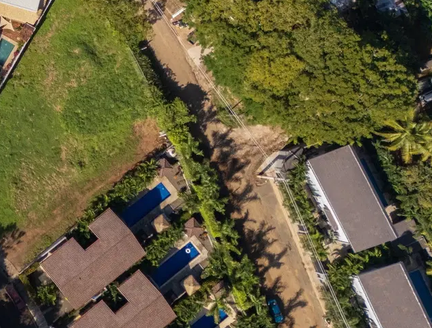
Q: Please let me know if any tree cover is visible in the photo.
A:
Yes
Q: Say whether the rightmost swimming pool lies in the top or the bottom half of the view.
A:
bottom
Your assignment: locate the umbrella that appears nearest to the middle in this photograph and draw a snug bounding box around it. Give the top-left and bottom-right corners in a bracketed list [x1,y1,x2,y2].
[152,213,169,231]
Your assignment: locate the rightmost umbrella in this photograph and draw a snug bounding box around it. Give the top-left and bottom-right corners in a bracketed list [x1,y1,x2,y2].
[182,275,199,293]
